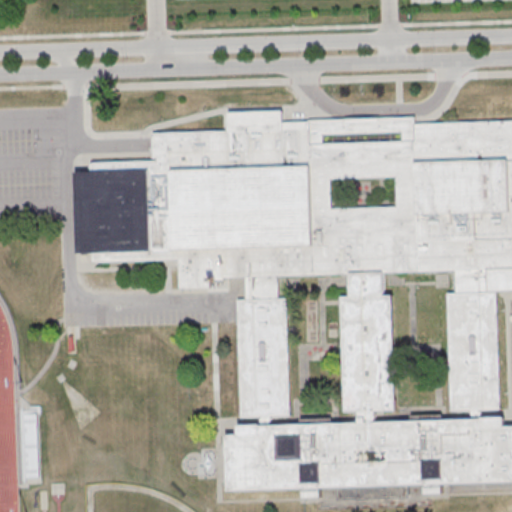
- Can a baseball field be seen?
No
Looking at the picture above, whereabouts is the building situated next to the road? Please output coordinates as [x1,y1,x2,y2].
[74,110,512,498]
